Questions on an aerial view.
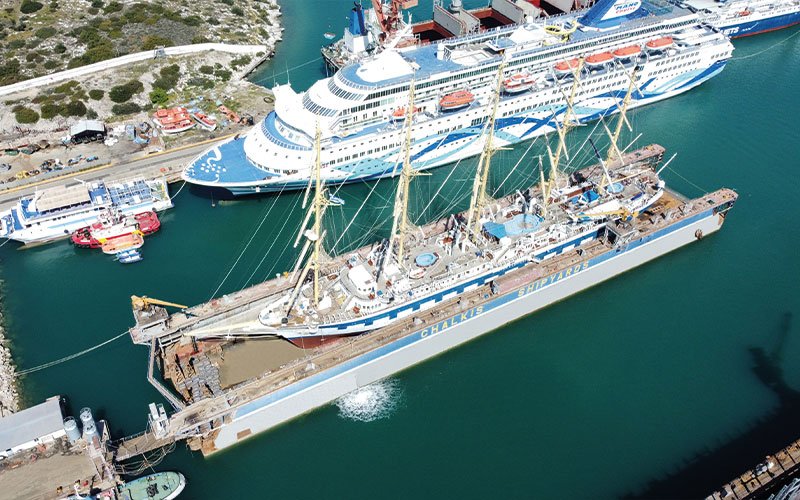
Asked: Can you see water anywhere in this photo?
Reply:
Yes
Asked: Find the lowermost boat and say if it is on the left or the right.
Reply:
left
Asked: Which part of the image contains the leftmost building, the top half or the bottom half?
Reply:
bottom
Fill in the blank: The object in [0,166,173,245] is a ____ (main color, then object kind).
white ship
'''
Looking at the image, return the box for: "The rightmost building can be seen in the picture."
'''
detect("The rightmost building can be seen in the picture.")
[141,395,175,444]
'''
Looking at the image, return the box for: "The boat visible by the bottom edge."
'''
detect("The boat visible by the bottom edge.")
[115,469,191,500]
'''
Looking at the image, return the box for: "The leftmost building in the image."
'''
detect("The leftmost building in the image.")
[0,400,73,473]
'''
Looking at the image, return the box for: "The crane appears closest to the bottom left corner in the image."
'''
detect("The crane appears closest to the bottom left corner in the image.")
[124,288,193,322]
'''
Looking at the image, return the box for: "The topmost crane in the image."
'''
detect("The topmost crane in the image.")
[370,0,420,48]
